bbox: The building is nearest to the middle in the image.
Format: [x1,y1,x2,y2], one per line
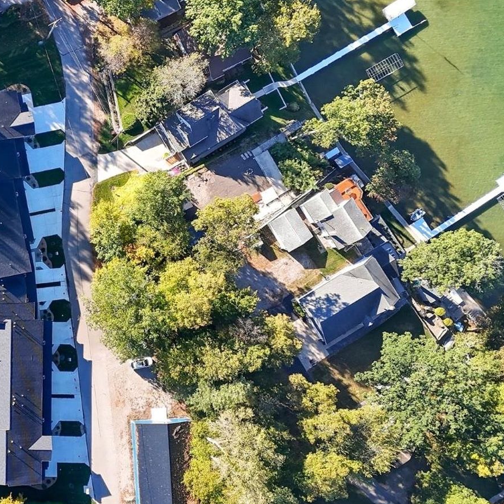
[265,207,313,253]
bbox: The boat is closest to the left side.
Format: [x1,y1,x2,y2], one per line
[409,209,429,222]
